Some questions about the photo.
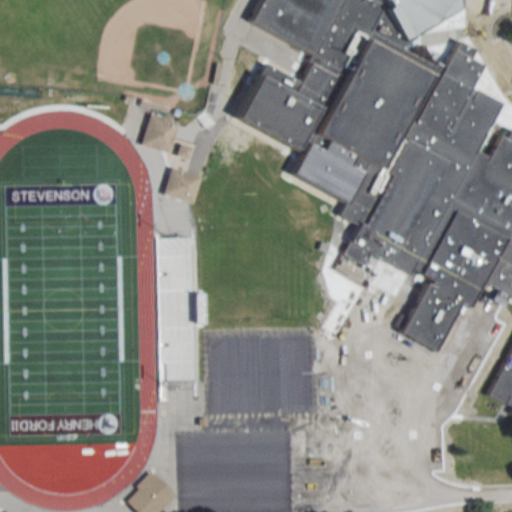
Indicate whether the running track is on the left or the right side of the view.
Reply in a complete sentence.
The running track sits on the left side.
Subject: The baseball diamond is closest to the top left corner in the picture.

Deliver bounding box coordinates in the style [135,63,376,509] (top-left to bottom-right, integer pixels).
[98,0,222,124]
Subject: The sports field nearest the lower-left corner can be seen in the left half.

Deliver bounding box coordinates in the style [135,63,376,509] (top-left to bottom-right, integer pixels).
[0,129,140,493]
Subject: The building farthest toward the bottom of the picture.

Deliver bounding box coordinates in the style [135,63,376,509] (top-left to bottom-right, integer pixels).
[128,474,176,512]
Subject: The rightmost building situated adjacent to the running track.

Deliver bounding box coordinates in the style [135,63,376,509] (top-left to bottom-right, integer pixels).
[239,0,512,352]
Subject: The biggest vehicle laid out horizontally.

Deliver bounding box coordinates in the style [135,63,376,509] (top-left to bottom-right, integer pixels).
[344,416,372,428]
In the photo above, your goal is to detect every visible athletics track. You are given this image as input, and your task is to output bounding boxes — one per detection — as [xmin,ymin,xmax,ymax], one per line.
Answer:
[0,112,158,511]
